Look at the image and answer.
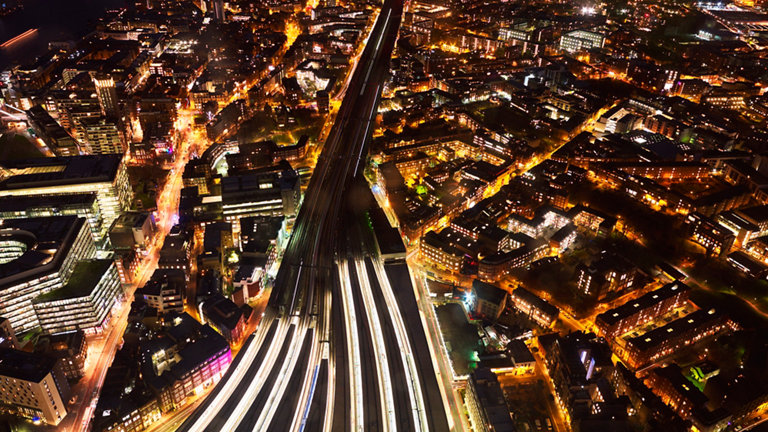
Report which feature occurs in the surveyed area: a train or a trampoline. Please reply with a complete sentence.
The one in the frame is a train.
